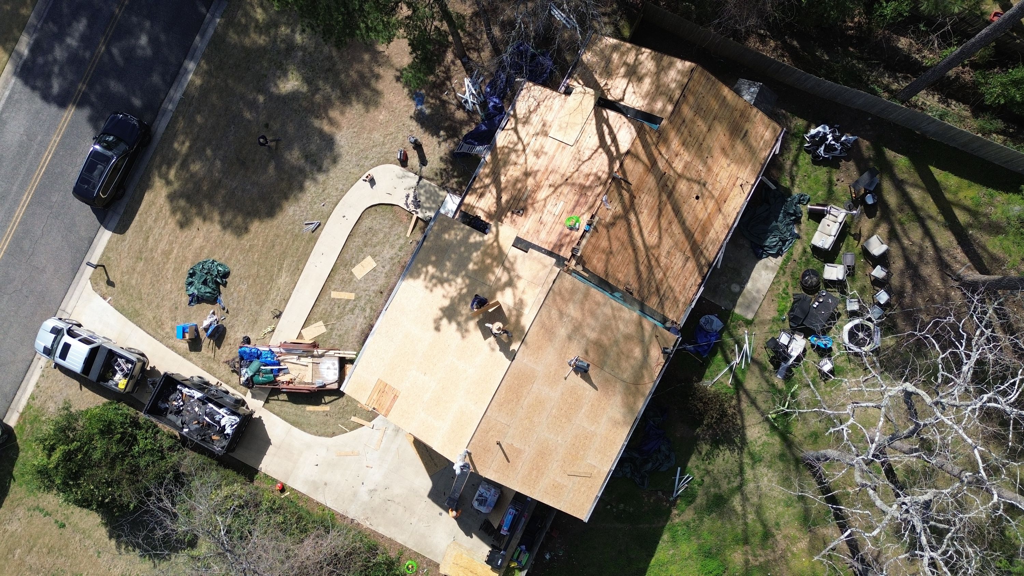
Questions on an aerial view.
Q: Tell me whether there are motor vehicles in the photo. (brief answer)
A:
Yes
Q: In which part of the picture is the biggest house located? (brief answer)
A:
center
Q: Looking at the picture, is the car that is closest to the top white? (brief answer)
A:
No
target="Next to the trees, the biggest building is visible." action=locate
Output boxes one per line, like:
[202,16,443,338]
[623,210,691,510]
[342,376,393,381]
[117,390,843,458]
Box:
[338,31,788,524]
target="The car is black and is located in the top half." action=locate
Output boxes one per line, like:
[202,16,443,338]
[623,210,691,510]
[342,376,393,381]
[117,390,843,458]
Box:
[72,118,146,214]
